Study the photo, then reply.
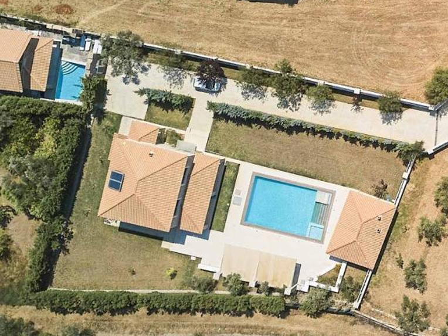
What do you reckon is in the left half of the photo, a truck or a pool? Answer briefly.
pool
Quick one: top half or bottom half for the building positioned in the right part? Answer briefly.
bottom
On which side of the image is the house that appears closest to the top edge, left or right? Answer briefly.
left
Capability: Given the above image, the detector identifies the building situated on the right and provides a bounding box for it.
[325,190,395,271]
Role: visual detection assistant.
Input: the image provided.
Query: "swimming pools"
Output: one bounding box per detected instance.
[52,58,88,103]
[239,172,333,244]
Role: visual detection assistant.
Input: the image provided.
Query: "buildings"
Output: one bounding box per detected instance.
[0,30,61,93]
[97,118,221,234]
[325,190,395,271]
